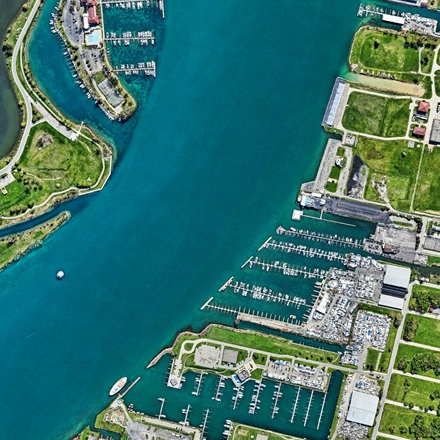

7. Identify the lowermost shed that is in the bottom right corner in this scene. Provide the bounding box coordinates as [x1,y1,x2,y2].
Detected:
[346,390,380,428]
